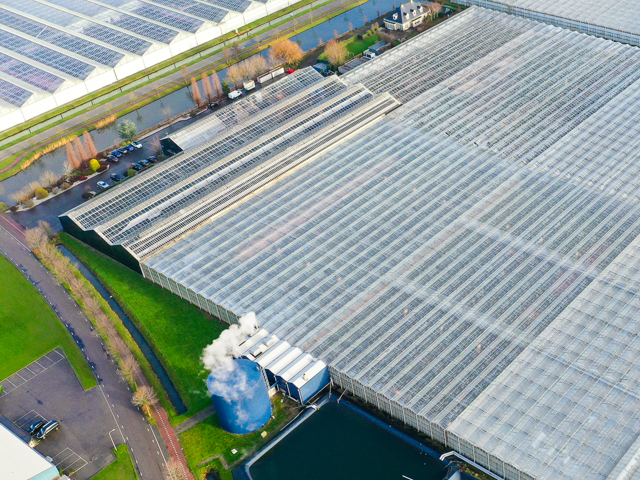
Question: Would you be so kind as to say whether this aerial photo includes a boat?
No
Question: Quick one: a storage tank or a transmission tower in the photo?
storage tank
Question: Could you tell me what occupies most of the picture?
buildings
